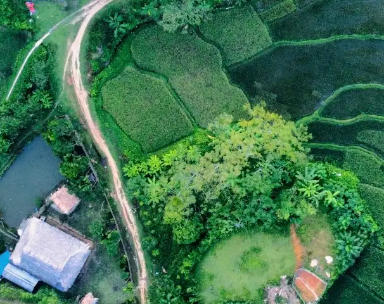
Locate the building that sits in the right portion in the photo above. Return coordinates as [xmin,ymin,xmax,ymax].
[295,267,327,304]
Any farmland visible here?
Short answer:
Yes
